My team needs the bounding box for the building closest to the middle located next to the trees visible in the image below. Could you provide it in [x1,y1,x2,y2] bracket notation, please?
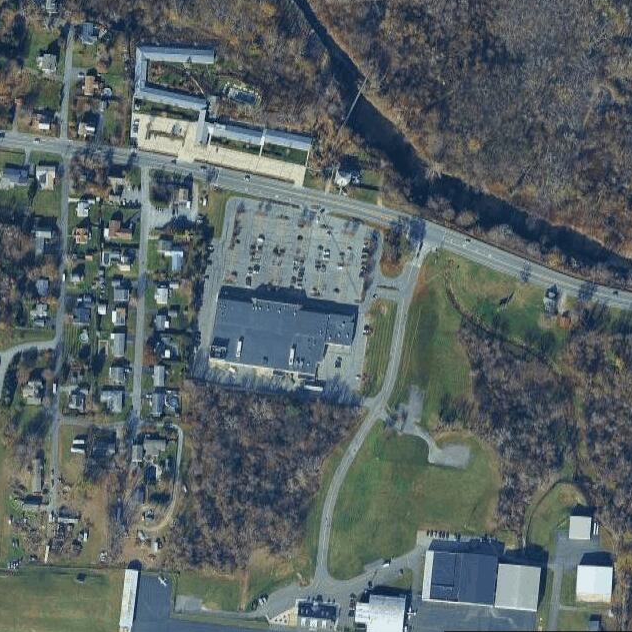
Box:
[210,298,359,380]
